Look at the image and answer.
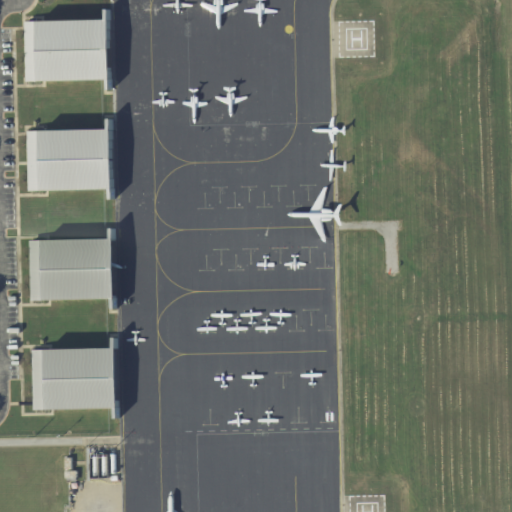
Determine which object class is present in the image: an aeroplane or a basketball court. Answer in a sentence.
It is an aeroplane that can be seen here.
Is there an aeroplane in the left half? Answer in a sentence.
Yes, I can see an aeroplane in the left half.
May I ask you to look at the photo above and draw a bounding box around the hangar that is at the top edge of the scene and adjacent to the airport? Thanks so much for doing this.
[24,8,115,90]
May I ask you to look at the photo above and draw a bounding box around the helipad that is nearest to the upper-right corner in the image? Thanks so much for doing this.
[336,20,376,58]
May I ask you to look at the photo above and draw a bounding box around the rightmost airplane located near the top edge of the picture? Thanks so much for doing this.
[244,0,277,28]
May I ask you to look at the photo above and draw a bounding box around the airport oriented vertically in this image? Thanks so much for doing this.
[112,0,346,512]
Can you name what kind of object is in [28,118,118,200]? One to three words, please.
hangar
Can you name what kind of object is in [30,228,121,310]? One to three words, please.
hangar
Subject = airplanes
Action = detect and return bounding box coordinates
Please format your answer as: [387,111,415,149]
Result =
[126,330,146,346]
[197,318,218,334]
[257,256,276,270]
[212,310,234,326]
[227,318,248,334]
[258,410,280,427]
[214,372,232,388]
[241,310,262,324]
[288,187,342,243]
[244,0,277,28]
[314,117,344,144]
[199,0,237,30]
[215,86,248,116]
[228,411,250,428]
[182,88,208,124]
[163,0,194,14]
[270,310,292,326]
[242,372,264,387]
[152,92,175,108]
[256,318,278,334]
[301,370,323,386]
[320,150,346,182]
[284,254,307,270]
